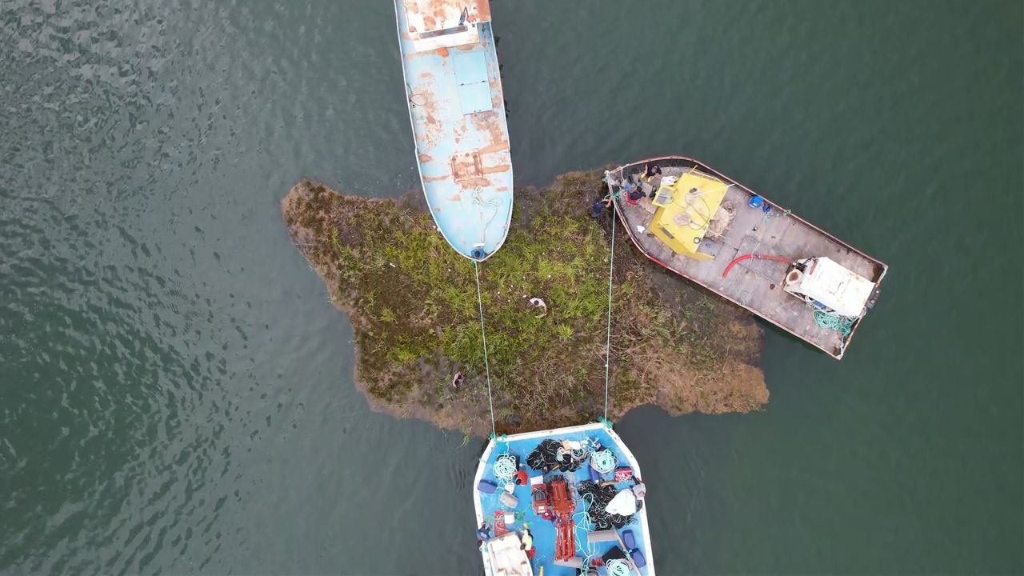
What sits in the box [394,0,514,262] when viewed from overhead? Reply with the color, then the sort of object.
white boat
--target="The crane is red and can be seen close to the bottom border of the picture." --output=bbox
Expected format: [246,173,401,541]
[530,472,578,562]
